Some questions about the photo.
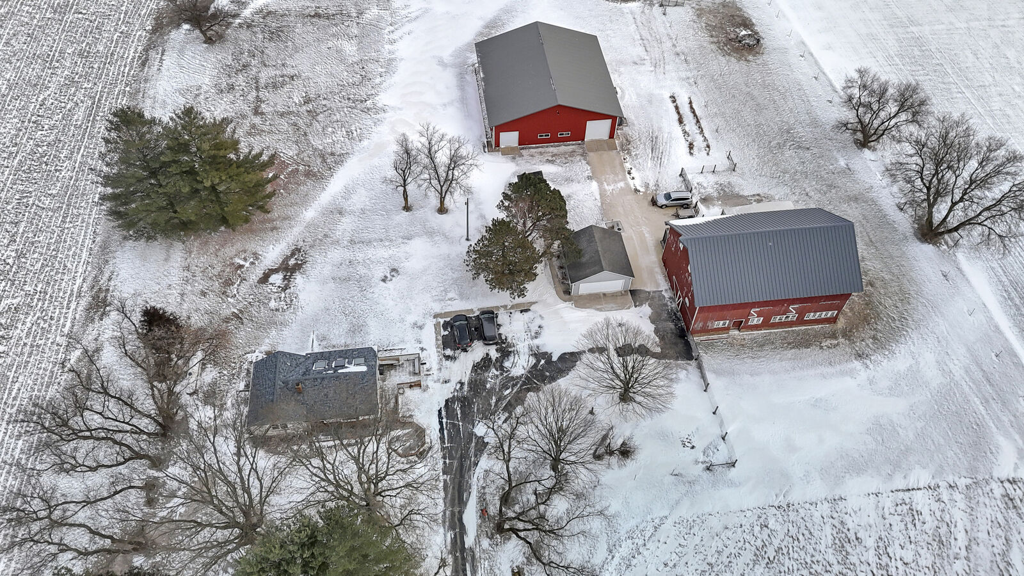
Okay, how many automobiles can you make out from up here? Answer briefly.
3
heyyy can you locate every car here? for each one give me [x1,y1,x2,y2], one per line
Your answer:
[476,310,501,349]
[450,315,473,353]
[654,188,695,209]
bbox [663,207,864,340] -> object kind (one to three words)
barn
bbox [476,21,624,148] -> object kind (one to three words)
shed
